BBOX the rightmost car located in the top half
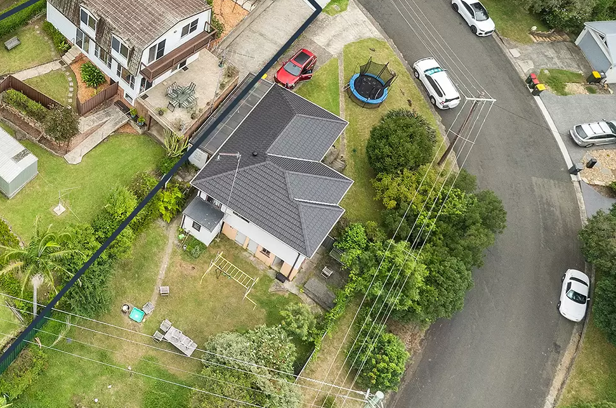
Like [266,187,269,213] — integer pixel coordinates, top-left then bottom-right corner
[562,114,616,149]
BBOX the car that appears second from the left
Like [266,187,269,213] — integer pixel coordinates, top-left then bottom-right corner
[411,58,469,114]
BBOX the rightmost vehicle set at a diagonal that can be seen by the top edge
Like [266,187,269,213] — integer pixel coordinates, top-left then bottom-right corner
[446,0,501,38]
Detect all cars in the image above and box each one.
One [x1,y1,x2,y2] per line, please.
[411,58,469,114]
[553,262,596,328]
[446,0,501,38]
[276,45,320,94]
[562,114,616,149]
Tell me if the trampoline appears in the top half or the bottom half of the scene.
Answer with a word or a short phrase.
top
